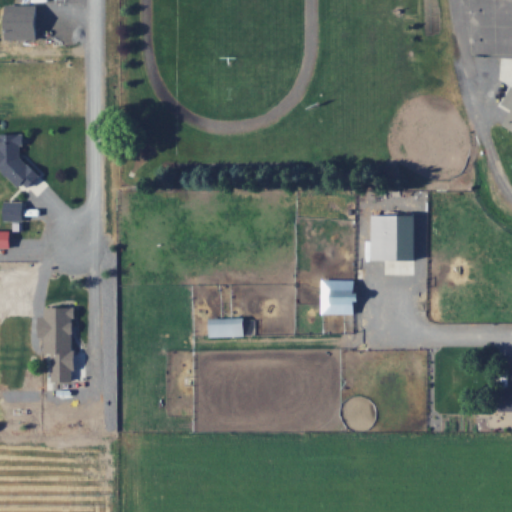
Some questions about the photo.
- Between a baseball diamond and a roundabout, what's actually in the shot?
baseball diamond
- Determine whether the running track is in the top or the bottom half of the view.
top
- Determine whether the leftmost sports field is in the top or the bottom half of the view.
top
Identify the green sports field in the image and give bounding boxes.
[152,0,304,120]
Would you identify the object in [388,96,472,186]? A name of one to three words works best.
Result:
baseball field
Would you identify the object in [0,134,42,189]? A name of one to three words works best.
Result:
house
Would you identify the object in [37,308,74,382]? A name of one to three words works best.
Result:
house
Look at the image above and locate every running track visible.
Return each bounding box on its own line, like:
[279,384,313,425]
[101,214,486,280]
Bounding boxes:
[140,0,318,134]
